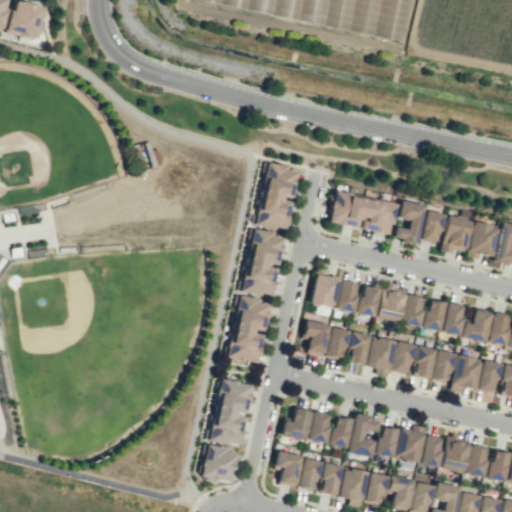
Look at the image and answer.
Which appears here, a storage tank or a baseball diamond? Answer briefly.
baseball diamond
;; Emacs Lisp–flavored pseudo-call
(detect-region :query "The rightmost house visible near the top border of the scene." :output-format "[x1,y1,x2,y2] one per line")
[8,0,49,36]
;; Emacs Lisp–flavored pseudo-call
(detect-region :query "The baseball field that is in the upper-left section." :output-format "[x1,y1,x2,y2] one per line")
[0,62,125,210]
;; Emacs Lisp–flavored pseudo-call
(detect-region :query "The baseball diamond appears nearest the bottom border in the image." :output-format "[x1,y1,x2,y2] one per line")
[0,250,204,461]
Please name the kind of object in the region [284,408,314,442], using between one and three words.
house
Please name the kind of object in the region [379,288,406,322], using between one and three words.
house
